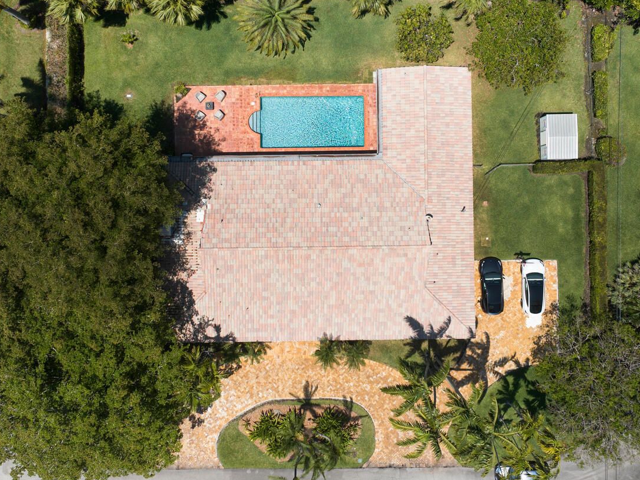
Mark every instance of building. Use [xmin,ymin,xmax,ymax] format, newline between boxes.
[161,65,475,341]
[540,113,581,161]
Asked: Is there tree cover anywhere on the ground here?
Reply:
Yes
